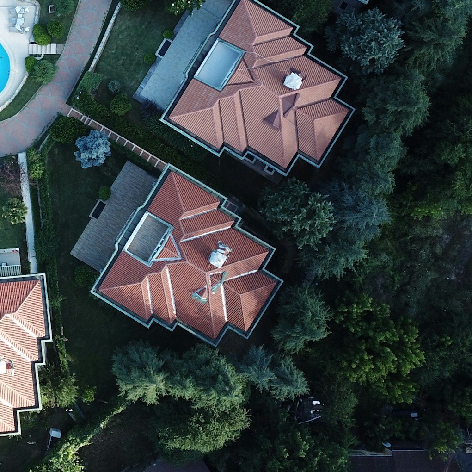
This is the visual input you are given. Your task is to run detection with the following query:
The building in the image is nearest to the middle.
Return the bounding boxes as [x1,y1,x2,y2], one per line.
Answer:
[89,164,281,346]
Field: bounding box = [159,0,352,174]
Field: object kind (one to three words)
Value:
house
